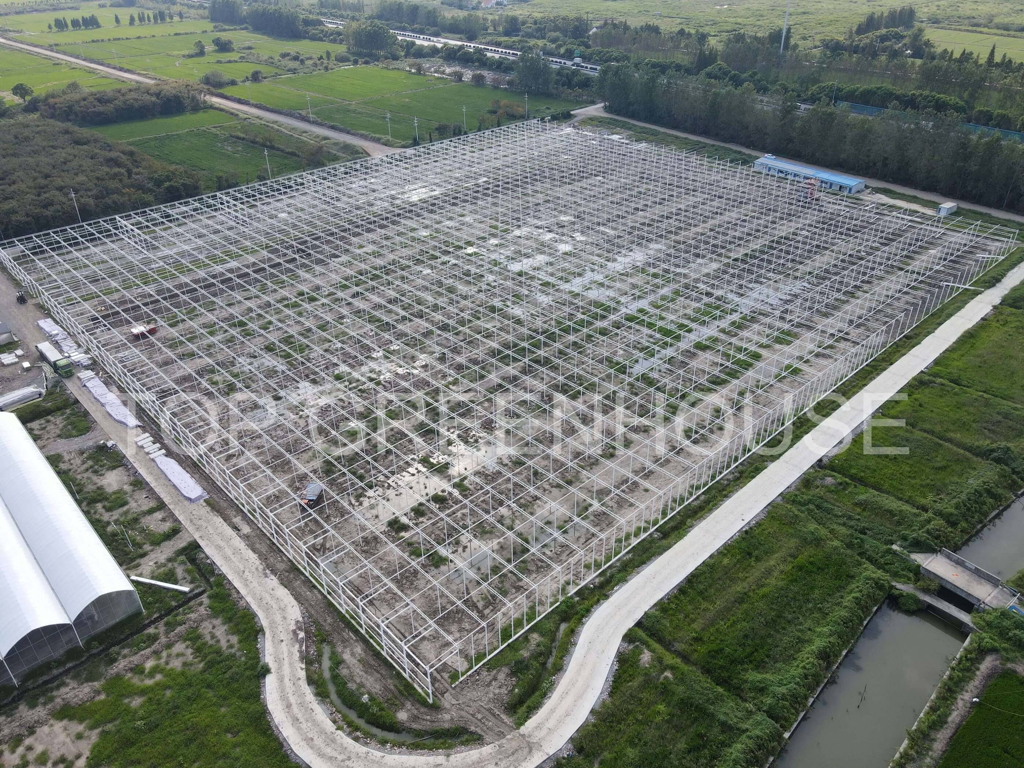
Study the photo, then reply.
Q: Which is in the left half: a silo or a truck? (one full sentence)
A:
The one visible in the left half is a truck.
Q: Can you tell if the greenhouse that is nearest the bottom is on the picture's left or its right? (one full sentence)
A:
It is on the left.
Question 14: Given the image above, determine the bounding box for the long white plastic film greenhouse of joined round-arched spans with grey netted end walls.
[0,408,145,687]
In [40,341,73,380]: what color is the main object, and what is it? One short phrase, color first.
white truck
